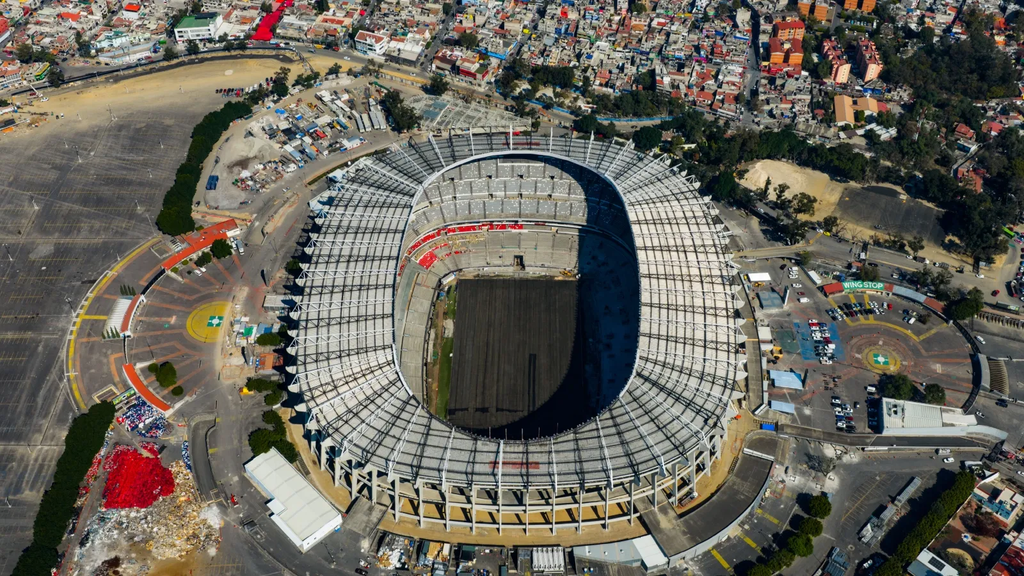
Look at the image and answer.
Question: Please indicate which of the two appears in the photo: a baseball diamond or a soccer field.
soccer field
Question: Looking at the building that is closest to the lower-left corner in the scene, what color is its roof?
red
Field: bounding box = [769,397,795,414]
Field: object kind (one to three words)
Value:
shed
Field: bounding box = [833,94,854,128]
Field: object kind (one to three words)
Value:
building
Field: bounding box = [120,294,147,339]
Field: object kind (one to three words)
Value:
building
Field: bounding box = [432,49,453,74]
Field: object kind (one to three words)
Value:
house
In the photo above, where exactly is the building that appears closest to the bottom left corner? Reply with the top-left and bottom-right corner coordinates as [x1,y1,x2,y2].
[122,364,174,418]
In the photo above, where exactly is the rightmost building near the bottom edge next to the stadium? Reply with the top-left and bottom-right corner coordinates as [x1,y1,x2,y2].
[633,534,668,573]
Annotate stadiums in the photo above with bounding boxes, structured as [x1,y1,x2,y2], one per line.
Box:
[284,124,749,534]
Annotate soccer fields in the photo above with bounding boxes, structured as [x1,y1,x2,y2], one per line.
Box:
[430,272,601,427]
